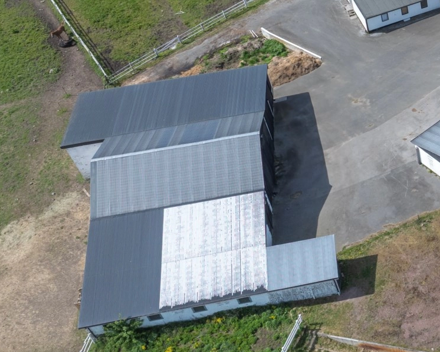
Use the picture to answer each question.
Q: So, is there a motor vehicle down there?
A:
No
